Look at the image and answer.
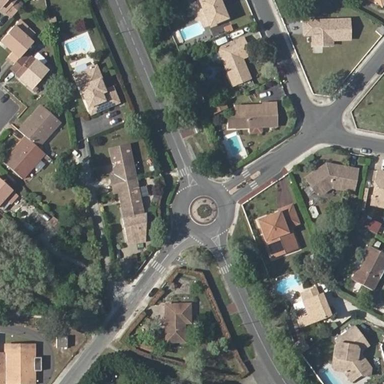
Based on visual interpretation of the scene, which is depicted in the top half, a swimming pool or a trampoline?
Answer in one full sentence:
The one visible in the top half is a swimming pool.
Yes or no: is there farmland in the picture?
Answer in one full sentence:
No, farmland can't be seen anywhere here.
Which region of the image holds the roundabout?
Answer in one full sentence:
The roundabout sits in the center section of the image.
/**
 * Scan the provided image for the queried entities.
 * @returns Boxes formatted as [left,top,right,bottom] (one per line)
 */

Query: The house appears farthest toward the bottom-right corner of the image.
[334,326,374,383]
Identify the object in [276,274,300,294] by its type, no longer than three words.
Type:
swimming pool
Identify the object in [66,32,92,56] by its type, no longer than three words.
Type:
swimming pool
